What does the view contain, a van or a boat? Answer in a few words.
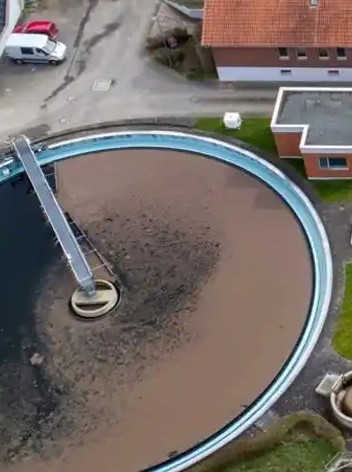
van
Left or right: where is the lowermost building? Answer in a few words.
right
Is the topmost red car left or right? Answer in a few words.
left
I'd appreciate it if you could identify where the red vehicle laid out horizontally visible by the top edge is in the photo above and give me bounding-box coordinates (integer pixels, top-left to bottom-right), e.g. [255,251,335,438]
[13,19,62,39]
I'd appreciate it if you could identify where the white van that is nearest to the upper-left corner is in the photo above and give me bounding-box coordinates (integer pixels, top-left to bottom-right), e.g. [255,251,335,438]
[3,31,68,62]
